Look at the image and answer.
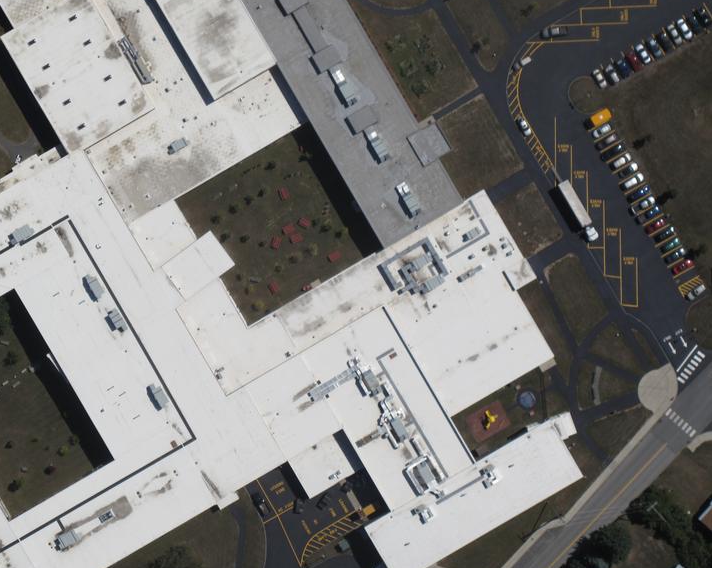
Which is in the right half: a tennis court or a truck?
truck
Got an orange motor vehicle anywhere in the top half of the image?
Yes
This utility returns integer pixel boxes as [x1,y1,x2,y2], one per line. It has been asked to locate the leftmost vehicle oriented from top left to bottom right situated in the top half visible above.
[517,116,533,137]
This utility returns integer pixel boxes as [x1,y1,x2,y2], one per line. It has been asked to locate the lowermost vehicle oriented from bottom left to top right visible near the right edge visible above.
[682,283,703,299]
